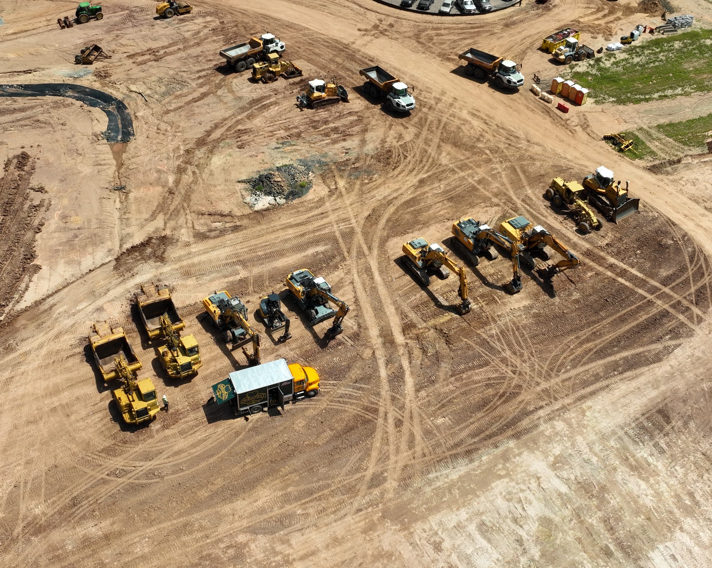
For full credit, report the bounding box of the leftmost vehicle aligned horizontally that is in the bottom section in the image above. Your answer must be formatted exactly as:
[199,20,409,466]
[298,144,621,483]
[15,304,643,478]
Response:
[209,356,321,414]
